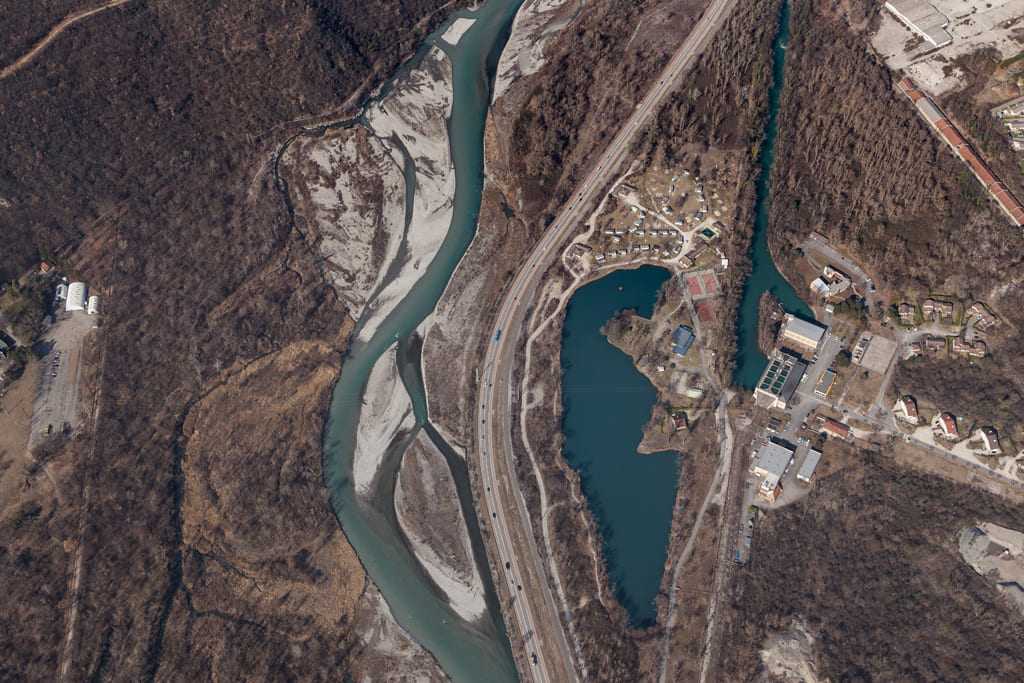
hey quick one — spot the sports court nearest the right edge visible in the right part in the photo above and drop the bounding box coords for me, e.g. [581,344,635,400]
[861,335,898,372]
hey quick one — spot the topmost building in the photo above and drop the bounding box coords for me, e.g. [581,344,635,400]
[885,0,953,54]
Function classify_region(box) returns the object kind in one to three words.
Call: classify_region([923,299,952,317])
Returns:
house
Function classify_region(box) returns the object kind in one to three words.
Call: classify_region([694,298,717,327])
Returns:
tennis court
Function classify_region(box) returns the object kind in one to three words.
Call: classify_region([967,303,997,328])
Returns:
house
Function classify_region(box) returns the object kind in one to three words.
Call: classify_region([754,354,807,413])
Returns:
building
